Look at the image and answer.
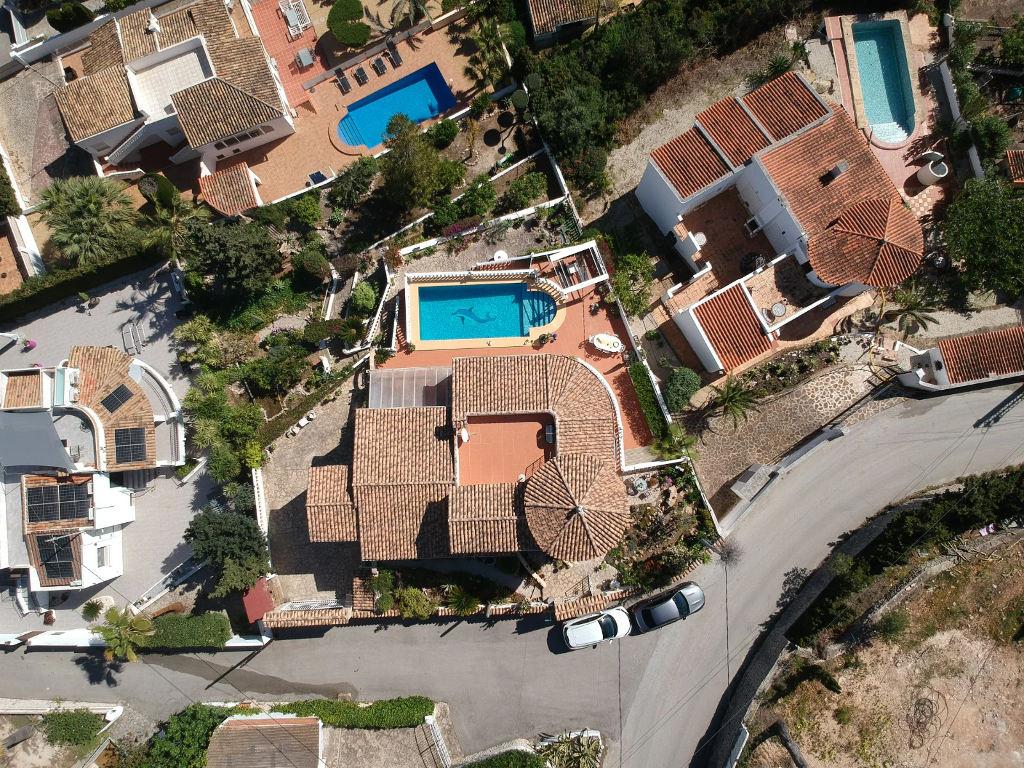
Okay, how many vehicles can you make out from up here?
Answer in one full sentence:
Altogether the scene contains 2 vehicles.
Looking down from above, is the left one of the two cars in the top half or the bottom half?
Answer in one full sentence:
Seen from above, the left one of the two cars lies in the bottom half of the view.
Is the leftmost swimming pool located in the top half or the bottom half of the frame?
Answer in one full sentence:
You can find the leftmost swimming pool in the top half.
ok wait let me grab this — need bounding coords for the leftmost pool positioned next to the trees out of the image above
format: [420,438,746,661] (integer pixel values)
[326,54,465,161]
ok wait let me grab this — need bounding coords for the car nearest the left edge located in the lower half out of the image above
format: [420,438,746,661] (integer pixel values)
[562,603,633,650]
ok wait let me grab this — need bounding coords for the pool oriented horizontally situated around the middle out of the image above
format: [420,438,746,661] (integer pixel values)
[410,272,567,350]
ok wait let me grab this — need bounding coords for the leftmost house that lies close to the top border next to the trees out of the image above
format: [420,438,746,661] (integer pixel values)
[53,0,302,182]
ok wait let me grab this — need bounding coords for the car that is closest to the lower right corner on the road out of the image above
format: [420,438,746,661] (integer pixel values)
[630,582,707,632]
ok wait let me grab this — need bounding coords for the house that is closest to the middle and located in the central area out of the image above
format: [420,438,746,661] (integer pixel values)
[302,355,633,564]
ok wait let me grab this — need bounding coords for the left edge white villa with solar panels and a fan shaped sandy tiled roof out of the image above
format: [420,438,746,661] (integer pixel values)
[0,345,192,594]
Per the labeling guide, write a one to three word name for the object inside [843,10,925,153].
swimming pool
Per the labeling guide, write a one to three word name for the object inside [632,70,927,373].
house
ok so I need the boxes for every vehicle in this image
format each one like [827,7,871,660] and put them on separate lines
[562,603,633,650]
[630,582,707,632]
